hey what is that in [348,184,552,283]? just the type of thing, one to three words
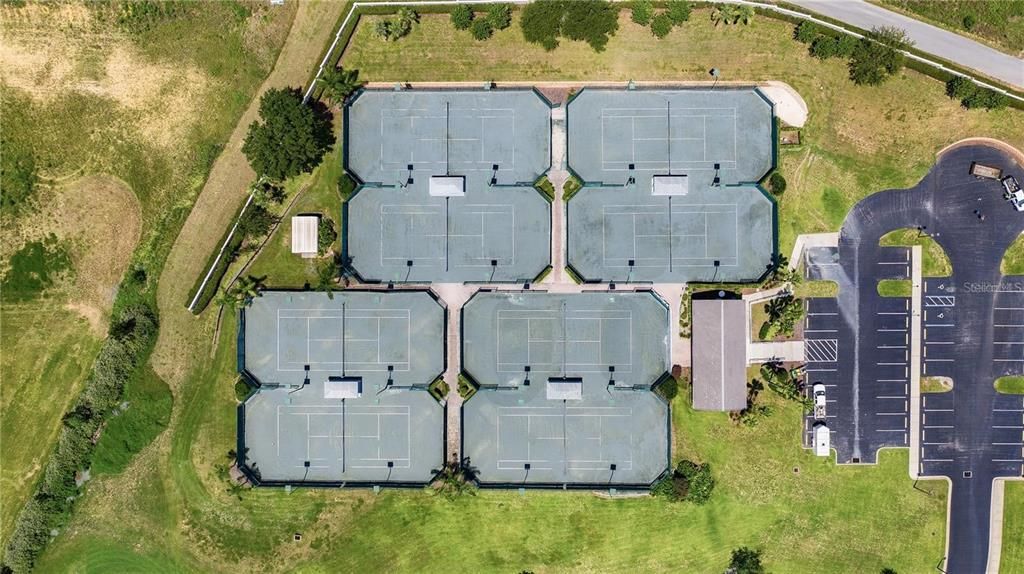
tennis court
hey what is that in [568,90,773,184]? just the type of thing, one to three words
tennis court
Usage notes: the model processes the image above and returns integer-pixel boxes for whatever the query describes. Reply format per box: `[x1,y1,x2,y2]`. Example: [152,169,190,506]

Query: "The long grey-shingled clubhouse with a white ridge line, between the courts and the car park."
[690,300,747,412]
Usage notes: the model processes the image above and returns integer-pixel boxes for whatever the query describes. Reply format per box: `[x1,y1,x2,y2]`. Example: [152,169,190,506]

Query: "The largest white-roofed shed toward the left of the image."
[293,217,321,260]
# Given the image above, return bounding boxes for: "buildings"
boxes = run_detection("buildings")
[293,217,321,260]
[690,300,747,412]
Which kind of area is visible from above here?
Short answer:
sports ground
